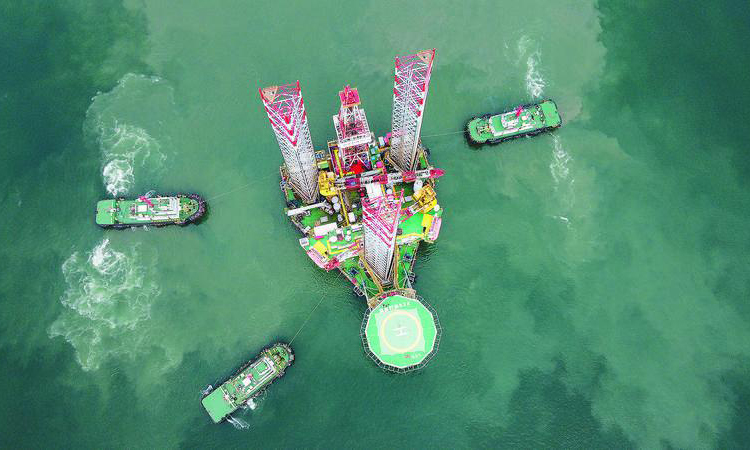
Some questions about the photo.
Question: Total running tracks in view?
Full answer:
I count no running tracks.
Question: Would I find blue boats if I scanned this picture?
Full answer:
No, no blue boat is visible in the scene.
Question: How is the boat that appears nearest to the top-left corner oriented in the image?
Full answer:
From this overhead view, the boat that appears nearest to the top-left corner appears to run from left to right.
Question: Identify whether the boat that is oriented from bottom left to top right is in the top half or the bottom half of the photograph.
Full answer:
Seen from above, the boat that is oriented from bottom left to top right lies in the bottom half of the view.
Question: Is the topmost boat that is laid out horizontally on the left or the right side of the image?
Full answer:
You can find the topmost boat that is laid out horizontally on the right side of the picture.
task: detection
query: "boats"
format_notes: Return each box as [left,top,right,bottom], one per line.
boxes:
[203,342,294,427]
[304,249,324,270]
[434,214,442,240]
[467,100,562,144]
[95,191,204,229]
